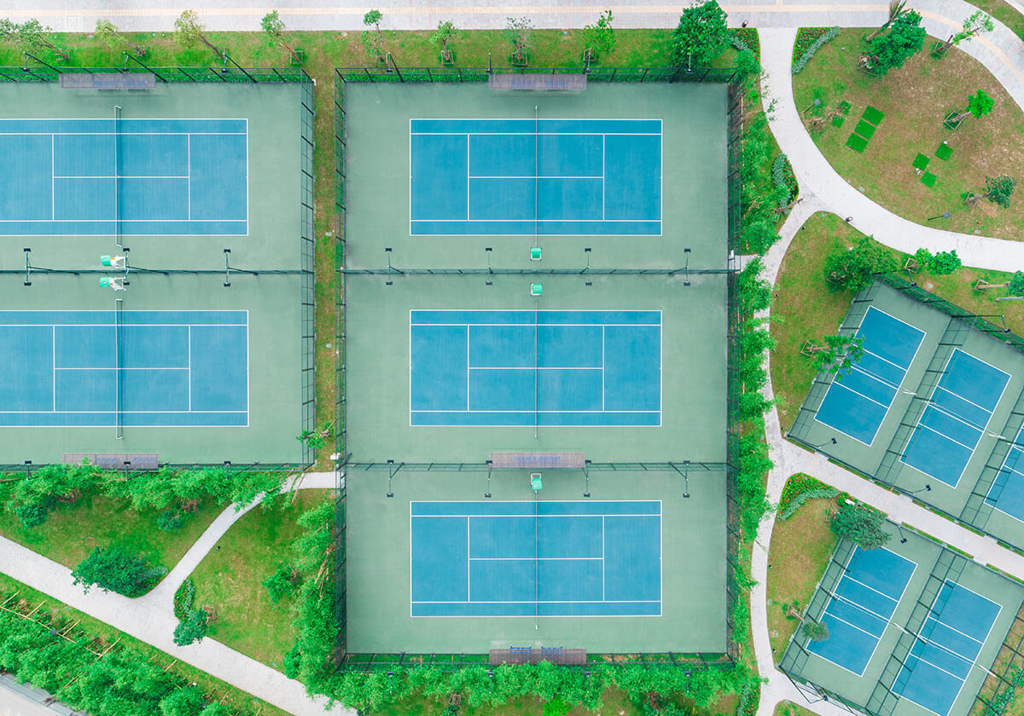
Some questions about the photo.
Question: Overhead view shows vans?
No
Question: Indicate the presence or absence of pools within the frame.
No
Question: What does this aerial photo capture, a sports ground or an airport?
sports ground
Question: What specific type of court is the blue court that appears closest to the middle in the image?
tennis court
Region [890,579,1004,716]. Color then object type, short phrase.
blue sports court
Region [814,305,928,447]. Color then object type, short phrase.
blue sports court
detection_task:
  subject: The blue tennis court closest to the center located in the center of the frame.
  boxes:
[410,309,663,427]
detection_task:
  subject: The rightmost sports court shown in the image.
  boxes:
[984,424,1024,523]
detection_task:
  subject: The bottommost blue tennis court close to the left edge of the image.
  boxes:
[0,310,248,427]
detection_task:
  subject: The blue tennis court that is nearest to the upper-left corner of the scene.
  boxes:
[0,117,248,236]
